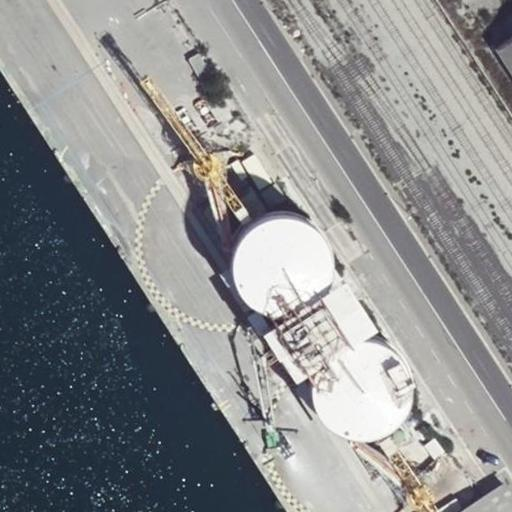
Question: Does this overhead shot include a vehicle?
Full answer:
Yes, there is a vehicle in the image.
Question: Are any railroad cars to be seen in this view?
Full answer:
No, I can't see a single railroad car in this photo.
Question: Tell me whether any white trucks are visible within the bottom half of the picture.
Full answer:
No, looking within the bottom half of the picture, there is no white truck.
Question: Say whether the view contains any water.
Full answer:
Yes, there's water in this view.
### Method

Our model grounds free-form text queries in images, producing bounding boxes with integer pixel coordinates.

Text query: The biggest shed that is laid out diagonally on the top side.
[242,153,292,212]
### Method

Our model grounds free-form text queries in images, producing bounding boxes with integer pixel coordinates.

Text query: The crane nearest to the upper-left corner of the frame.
[137,73,248,241]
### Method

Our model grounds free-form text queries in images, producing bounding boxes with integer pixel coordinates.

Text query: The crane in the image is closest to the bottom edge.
[353,443,460,512]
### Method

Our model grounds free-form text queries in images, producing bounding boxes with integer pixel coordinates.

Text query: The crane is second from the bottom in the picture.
[241,338,299,458]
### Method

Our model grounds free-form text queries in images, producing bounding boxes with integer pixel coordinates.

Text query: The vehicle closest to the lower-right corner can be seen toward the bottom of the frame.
[478,450,500,465]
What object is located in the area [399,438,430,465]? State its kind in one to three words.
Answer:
building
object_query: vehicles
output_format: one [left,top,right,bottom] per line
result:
[478,450,500,465]
[192,96,219,127]
[178,108,198,134]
